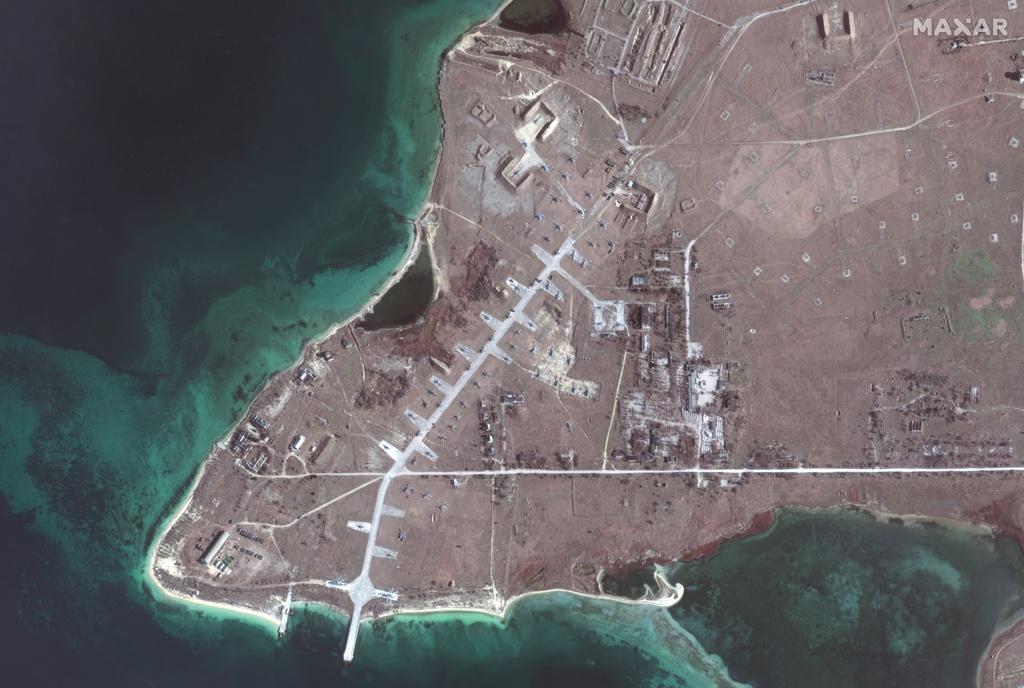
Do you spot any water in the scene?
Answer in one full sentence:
Yes, water shows up in the scene.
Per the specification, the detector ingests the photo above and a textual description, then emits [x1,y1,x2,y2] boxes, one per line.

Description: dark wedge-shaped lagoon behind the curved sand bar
[357,242,436,330]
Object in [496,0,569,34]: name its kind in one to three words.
pond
